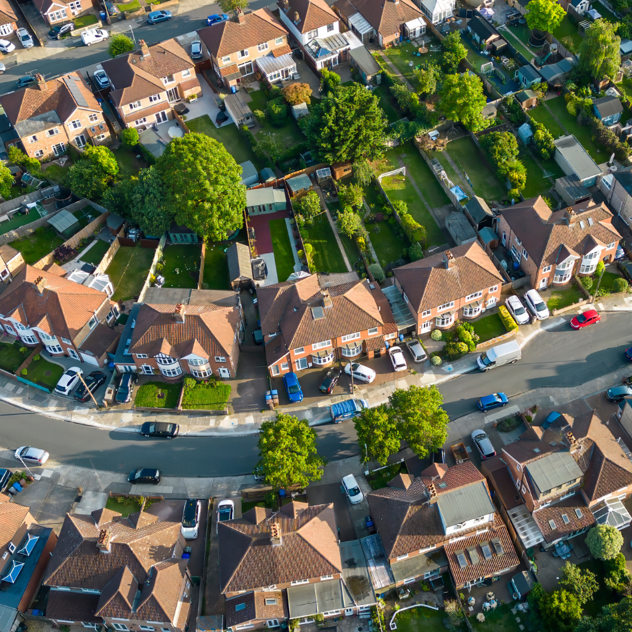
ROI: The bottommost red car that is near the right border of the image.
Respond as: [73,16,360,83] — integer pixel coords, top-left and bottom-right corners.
[569,310,603,330]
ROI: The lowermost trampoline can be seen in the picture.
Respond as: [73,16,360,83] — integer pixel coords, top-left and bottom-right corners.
[223,228,241,244]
